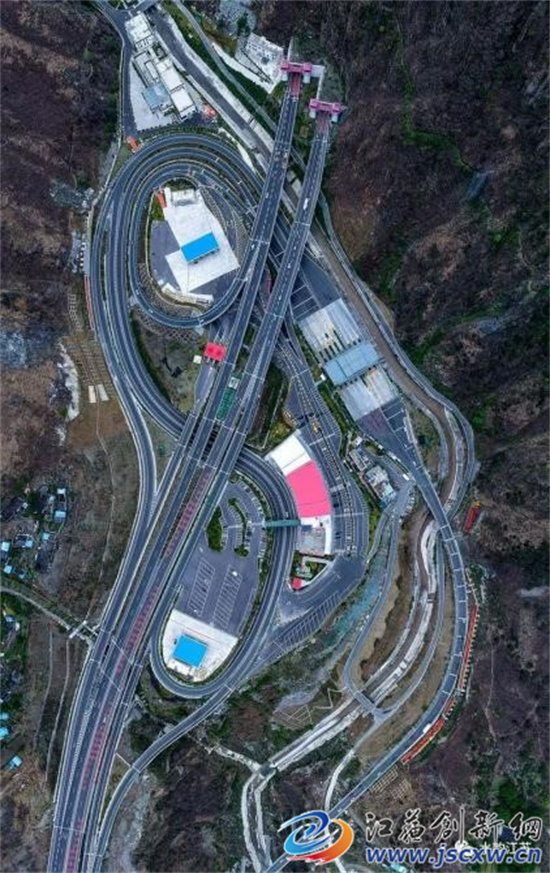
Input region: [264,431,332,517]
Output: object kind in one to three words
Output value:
building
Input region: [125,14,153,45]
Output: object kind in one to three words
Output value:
building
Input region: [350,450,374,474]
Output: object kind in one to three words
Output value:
house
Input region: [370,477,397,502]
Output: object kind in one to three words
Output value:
house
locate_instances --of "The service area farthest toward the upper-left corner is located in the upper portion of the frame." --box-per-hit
[148,188,240,304]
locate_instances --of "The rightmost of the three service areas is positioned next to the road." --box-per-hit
[252,330,368,668]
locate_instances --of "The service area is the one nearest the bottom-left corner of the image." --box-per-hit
[164,481,267,680]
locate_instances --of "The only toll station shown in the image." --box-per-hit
[291,262,424,468]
